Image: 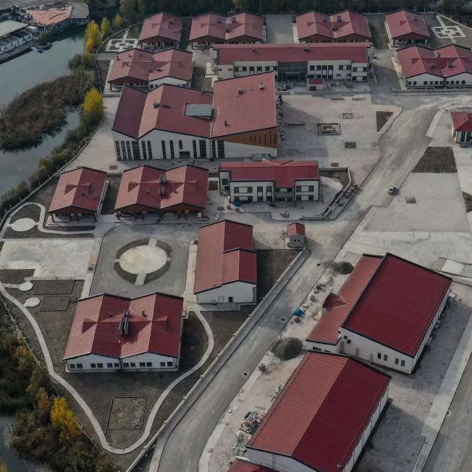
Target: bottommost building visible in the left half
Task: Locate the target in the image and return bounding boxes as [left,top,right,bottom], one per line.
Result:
[63,291,184,371]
